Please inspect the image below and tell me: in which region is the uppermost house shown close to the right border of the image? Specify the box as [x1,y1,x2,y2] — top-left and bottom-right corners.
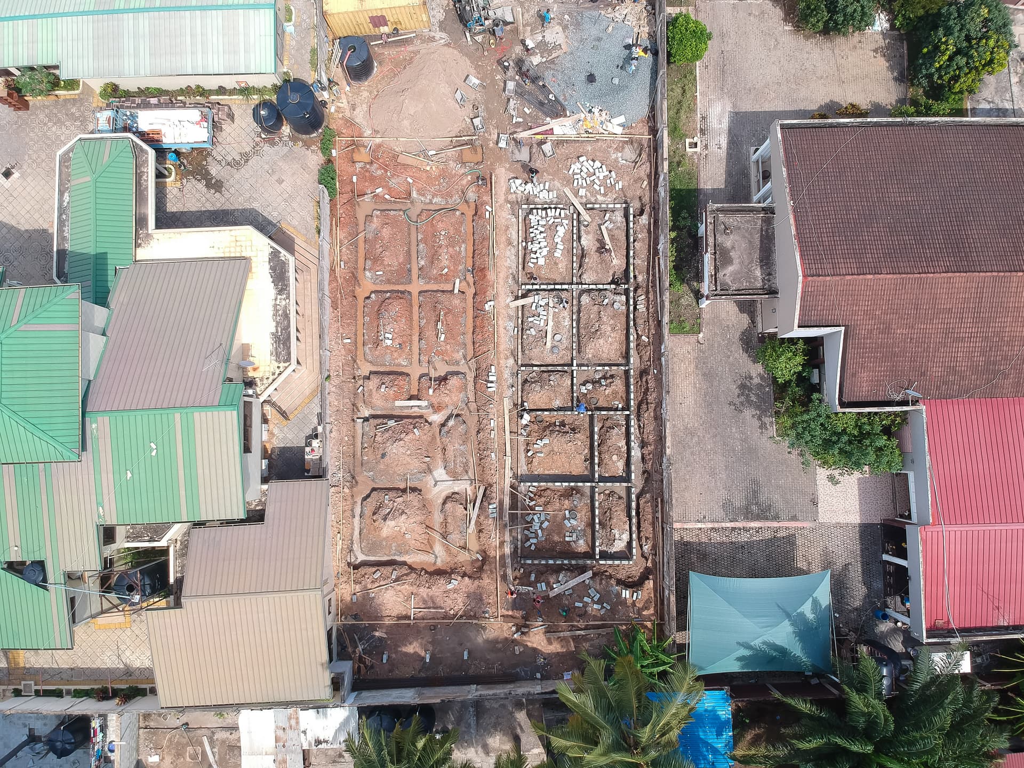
[693,117,1024,410]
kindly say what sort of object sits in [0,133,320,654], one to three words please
building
